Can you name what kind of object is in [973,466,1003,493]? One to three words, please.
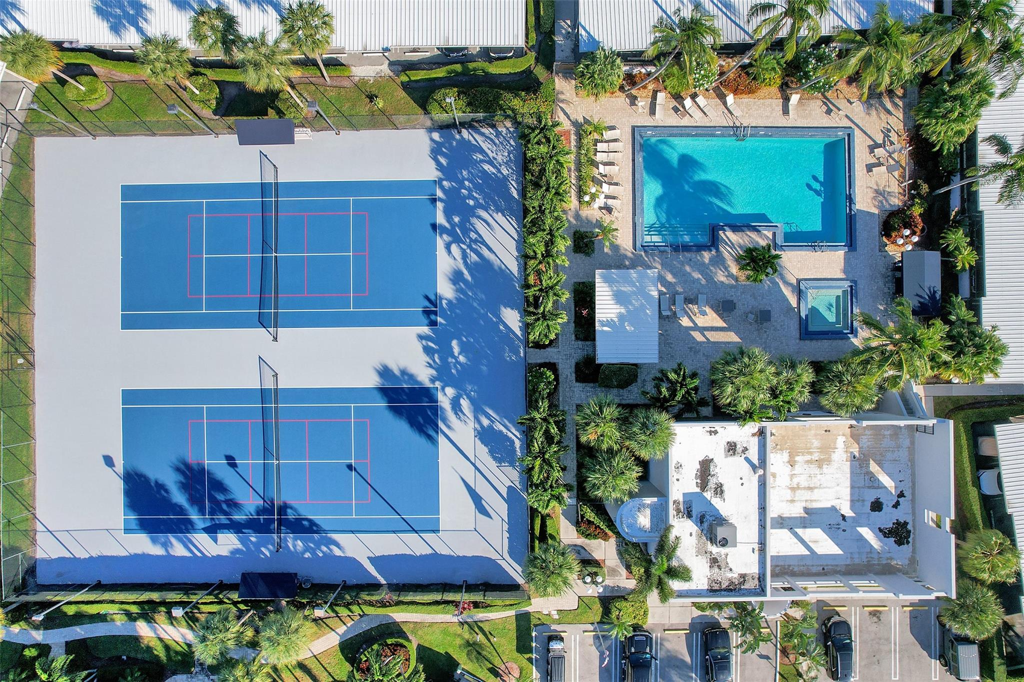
car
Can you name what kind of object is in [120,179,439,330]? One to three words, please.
tennis court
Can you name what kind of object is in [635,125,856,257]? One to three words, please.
swimming pool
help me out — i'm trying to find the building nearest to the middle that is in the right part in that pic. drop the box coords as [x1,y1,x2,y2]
[595,269,661,363]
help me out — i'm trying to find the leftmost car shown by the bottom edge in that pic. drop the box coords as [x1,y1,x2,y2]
[540,637,570,682]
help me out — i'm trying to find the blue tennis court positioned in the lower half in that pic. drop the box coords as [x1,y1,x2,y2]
[121,386,440,535]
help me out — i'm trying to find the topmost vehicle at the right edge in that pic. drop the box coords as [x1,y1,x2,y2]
[973,432,998,457]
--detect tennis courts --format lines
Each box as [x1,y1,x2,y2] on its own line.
[120,179,439,330]
[121,386,440,535]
